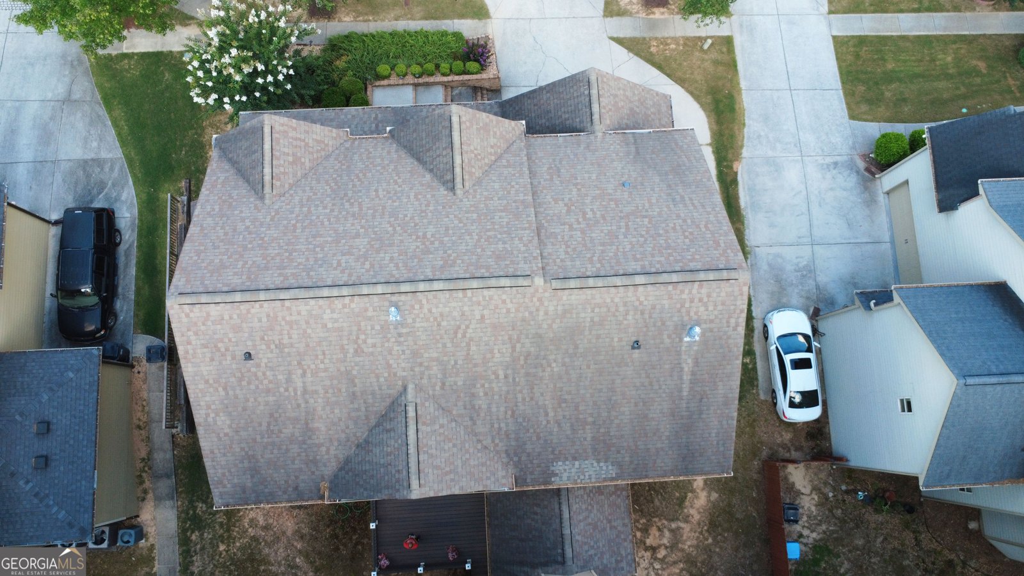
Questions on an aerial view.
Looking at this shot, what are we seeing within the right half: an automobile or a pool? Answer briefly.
automobile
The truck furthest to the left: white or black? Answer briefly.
black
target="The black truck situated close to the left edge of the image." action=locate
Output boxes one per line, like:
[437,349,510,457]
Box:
[48,206,122,342]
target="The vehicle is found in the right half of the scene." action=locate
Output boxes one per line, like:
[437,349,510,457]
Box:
[763,309,822,423]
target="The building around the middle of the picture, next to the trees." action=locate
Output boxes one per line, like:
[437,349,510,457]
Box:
[167,68,748,576]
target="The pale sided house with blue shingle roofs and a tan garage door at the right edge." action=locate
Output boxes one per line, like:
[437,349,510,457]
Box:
[815,105,1024,563]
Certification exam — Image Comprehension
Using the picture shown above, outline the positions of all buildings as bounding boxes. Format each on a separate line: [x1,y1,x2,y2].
[0,184,140,553]
[815,105,1024,563]
[167,68,748,576]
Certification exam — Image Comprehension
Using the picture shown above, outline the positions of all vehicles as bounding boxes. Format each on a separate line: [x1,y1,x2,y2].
[763,309,822,423]
[48,206,122,342]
